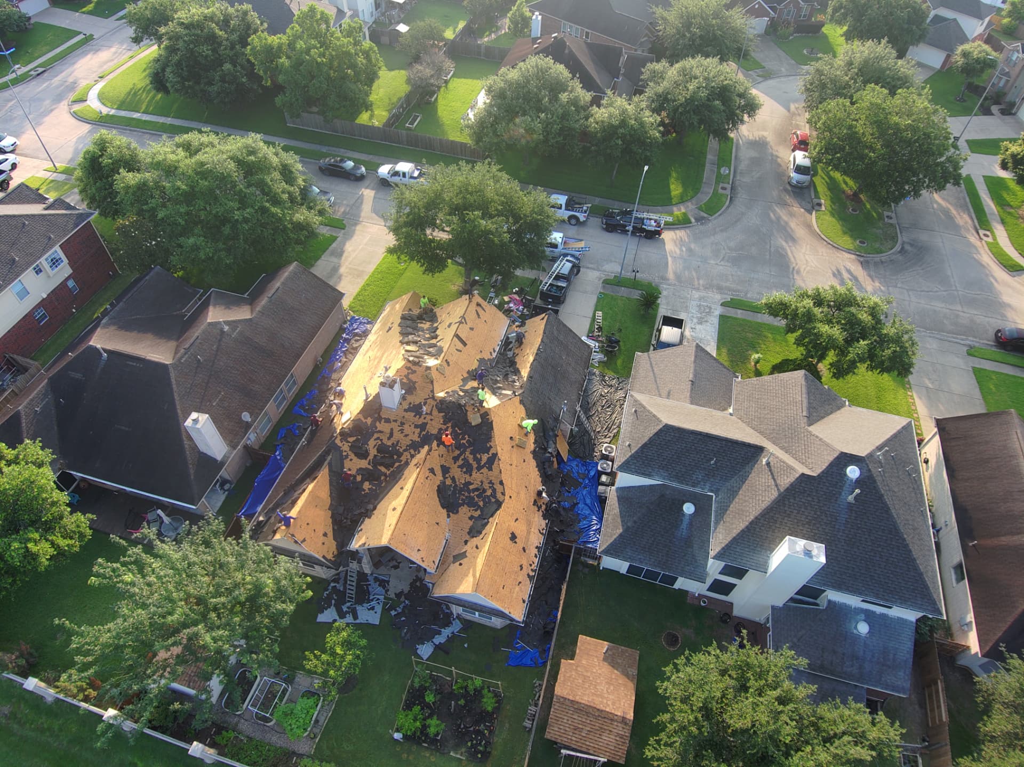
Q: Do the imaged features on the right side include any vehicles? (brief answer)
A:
Yes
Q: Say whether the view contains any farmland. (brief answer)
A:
No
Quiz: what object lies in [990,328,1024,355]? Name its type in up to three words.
car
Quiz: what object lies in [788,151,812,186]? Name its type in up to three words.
car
